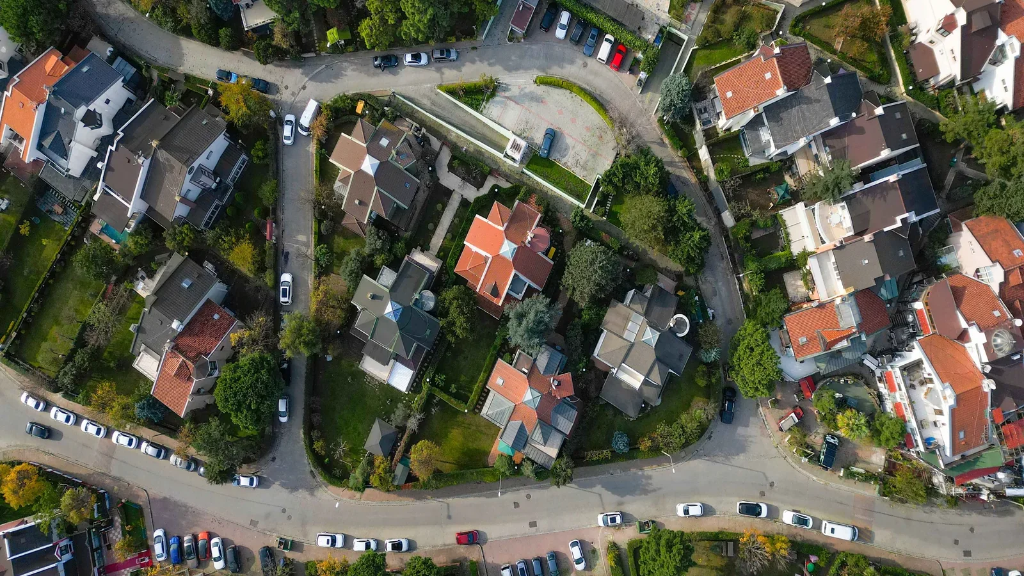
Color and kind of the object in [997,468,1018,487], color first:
gray tent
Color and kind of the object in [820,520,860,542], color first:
white vehicle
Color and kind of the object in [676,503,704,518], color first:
white car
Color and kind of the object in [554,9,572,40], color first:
white car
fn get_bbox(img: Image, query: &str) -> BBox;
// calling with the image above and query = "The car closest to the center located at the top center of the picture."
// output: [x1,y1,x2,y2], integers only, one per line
[539,127,555,157]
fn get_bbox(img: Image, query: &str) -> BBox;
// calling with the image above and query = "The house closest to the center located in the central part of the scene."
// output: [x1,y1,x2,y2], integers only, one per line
[454,200,554,320]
